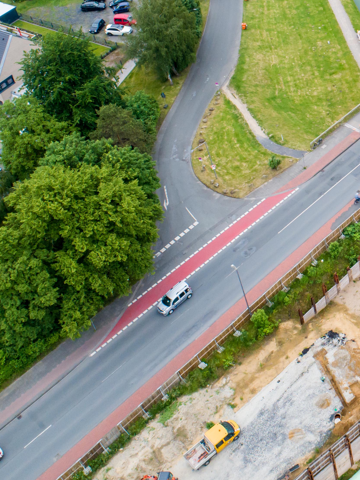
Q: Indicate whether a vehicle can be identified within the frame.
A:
Yes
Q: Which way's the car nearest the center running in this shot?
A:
at an angle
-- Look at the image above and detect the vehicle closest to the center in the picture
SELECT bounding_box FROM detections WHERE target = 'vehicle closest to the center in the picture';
[154,280,196,319]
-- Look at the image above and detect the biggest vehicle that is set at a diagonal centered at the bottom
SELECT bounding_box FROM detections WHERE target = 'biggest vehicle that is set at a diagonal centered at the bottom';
[177,420,240,479]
